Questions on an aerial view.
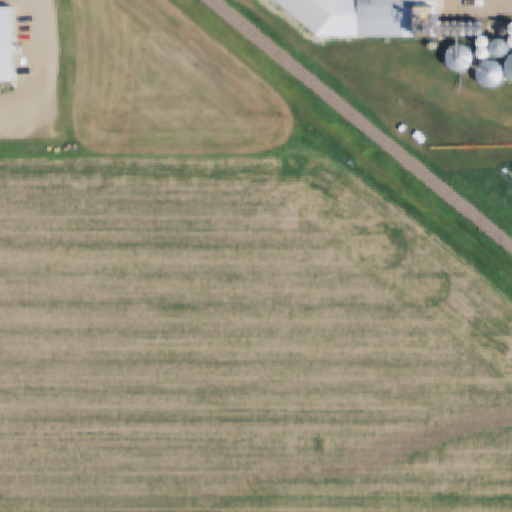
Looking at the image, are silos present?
Yes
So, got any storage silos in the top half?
Yes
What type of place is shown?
farmland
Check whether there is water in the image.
No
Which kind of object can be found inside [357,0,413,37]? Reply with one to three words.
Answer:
building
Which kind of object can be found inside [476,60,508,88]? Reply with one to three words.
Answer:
silo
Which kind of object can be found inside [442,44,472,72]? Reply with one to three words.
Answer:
silo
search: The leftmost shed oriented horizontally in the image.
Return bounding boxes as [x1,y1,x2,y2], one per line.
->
[273,0,357,37]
